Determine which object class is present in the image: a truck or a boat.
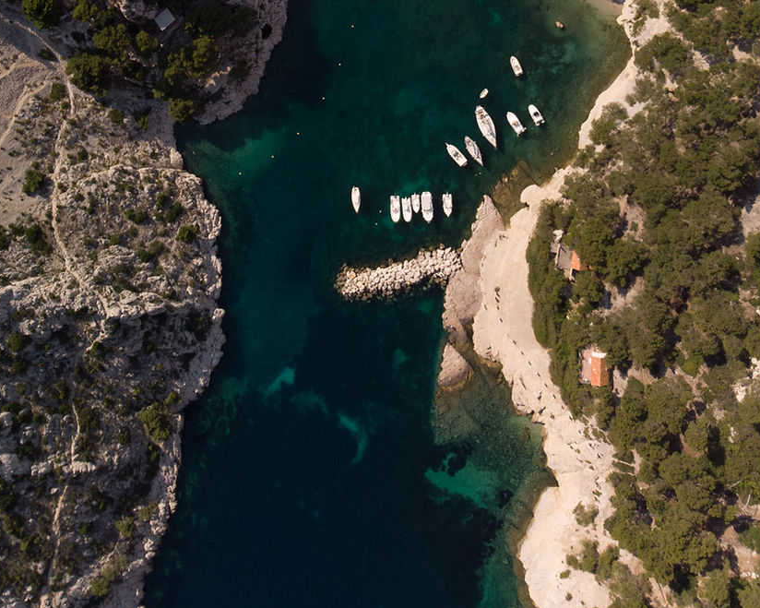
boat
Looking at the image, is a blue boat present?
No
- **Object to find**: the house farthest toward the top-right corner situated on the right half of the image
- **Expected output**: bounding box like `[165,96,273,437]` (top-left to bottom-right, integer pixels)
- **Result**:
[548,239,592,271]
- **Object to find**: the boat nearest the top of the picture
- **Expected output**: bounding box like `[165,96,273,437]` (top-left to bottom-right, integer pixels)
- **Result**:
[510,55,523,78]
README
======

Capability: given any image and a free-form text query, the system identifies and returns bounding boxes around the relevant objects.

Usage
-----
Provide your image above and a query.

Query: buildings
[548,239,592,271]
[153,8,172,31]
[580,346,609,388]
